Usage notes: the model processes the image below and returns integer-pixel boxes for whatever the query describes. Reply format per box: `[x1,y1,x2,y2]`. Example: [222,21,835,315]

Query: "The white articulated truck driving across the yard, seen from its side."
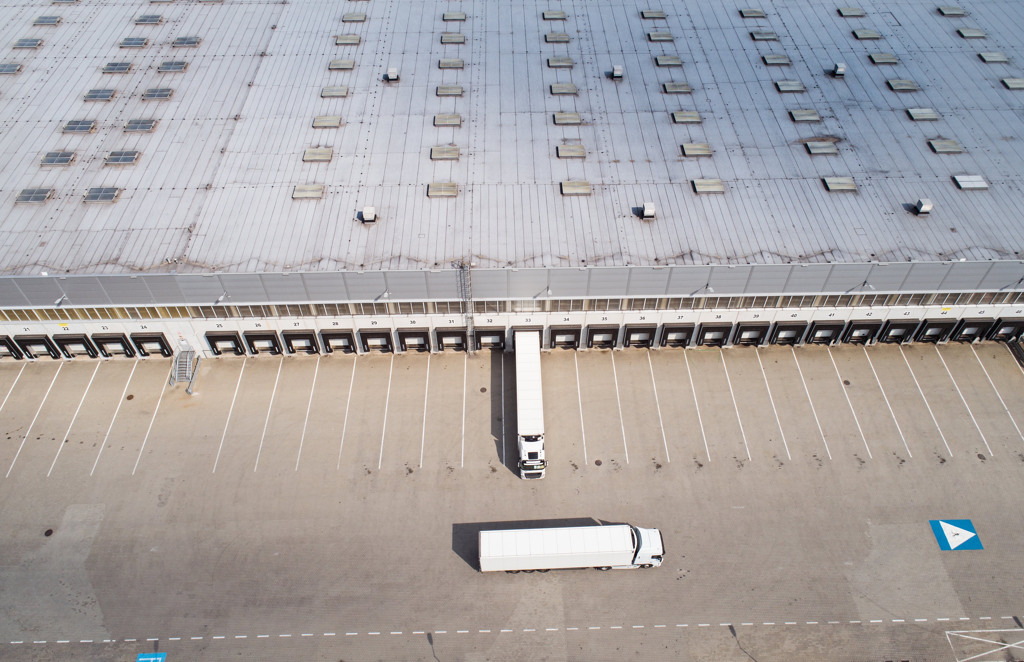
[479,525,665,574]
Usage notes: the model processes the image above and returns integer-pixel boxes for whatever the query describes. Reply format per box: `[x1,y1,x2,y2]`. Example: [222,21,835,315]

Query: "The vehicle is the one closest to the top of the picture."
[515,332,549,480]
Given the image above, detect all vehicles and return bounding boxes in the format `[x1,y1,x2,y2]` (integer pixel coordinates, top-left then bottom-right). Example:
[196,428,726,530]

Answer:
[515,332,549,480]
[479,525,665,574]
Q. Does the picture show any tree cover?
No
